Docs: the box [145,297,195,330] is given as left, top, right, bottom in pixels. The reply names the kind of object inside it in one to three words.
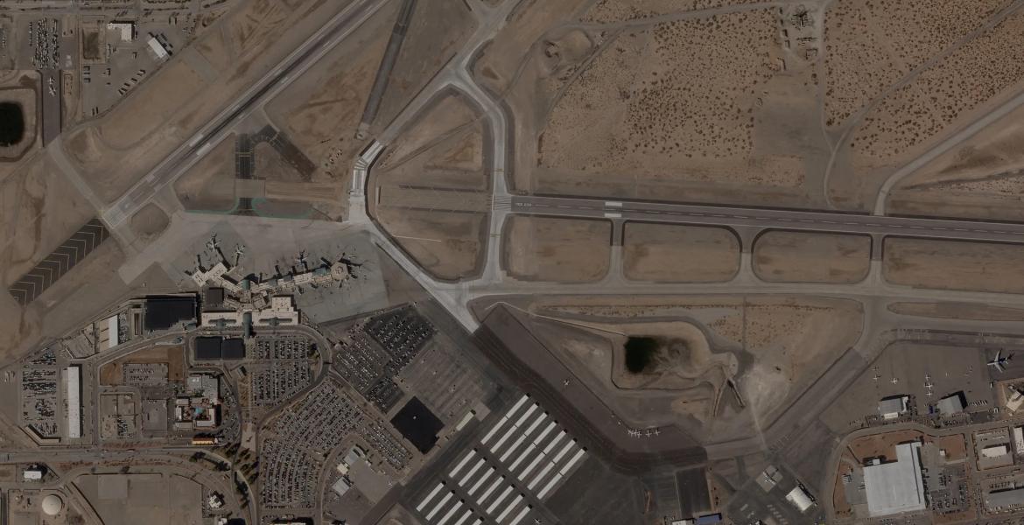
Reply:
building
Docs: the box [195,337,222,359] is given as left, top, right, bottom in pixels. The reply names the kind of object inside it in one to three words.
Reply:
building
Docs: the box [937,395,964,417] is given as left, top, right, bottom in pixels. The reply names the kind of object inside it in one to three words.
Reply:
hangar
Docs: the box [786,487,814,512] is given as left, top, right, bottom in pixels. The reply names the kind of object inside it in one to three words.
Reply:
hangar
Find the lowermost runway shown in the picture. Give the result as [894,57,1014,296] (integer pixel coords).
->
[491,194,1024,242]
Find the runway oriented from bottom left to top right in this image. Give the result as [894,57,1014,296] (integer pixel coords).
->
[102,0,386,230]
